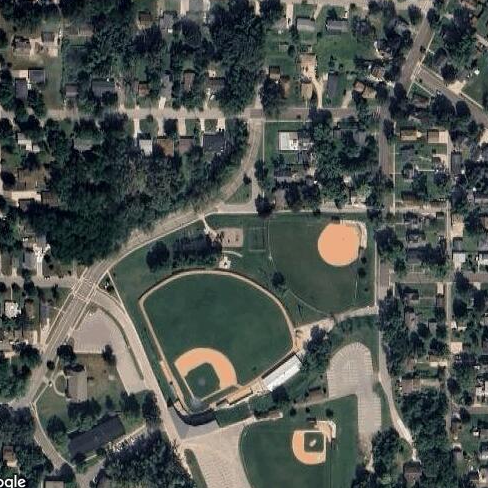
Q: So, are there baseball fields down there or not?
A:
Yes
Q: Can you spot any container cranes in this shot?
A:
No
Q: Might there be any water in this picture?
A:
No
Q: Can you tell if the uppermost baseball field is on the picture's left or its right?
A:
right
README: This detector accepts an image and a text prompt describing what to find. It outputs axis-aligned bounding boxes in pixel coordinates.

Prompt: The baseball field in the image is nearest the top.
[269,217,369,318]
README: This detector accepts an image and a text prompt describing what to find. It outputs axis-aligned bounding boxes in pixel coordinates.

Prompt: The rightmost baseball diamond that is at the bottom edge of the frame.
[239,413,333,488]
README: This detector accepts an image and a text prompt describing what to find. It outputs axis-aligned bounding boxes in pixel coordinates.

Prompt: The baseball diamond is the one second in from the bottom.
[139,268,295,415]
